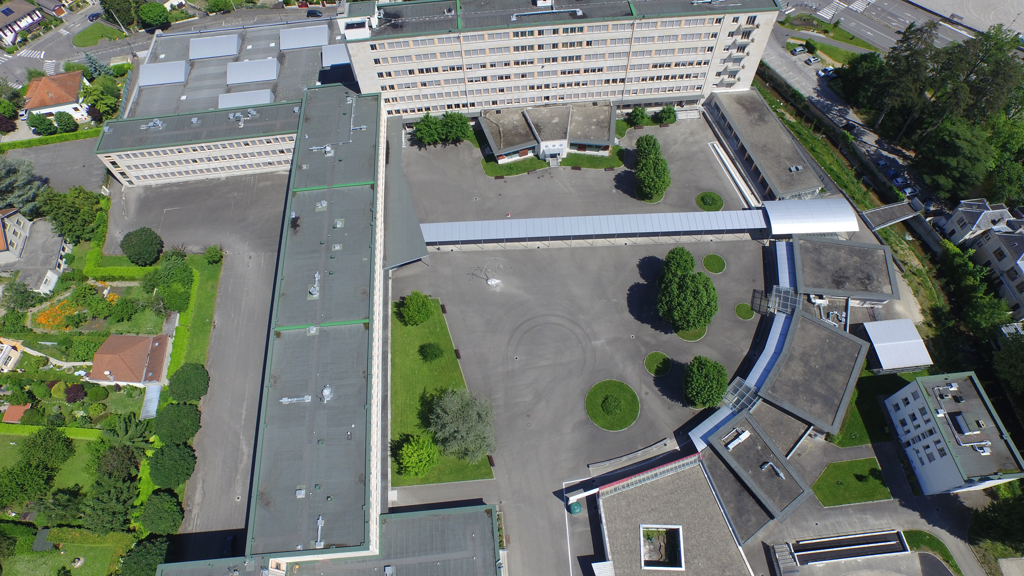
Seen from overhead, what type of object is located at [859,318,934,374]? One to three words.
shed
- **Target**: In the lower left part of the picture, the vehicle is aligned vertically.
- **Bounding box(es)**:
[221,532,236,560]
